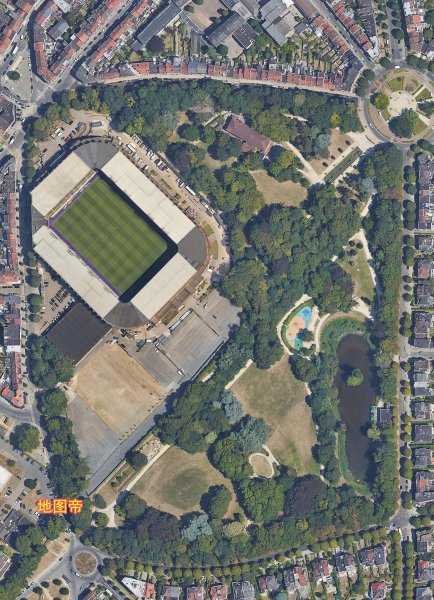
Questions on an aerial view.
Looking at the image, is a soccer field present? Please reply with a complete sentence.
Yes, a soccer field appears in the view.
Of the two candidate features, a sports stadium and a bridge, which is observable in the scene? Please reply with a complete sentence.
The one in the frame is a sports stadium.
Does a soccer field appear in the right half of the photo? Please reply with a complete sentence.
No, I can find no soccer field in the right half of the photo.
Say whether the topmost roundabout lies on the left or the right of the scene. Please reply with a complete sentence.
The topmost roundabout appears in the right half of the scene.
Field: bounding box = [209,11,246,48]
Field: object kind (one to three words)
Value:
building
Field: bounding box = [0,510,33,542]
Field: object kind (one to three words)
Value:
building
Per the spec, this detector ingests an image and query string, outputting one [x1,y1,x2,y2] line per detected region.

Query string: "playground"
[285,307,312,349]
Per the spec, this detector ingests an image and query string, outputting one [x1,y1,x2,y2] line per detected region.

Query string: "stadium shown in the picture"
[30,135,210,331]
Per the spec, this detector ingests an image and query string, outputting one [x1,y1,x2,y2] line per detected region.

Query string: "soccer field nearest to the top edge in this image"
[46,175,170,296]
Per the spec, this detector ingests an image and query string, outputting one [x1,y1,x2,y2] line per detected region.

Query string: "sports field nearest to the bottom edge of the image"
[75,342,166,440]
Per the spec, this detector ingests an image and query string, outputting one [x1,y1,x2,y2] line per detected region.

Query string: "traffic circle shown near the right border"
[360,60,434,149]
